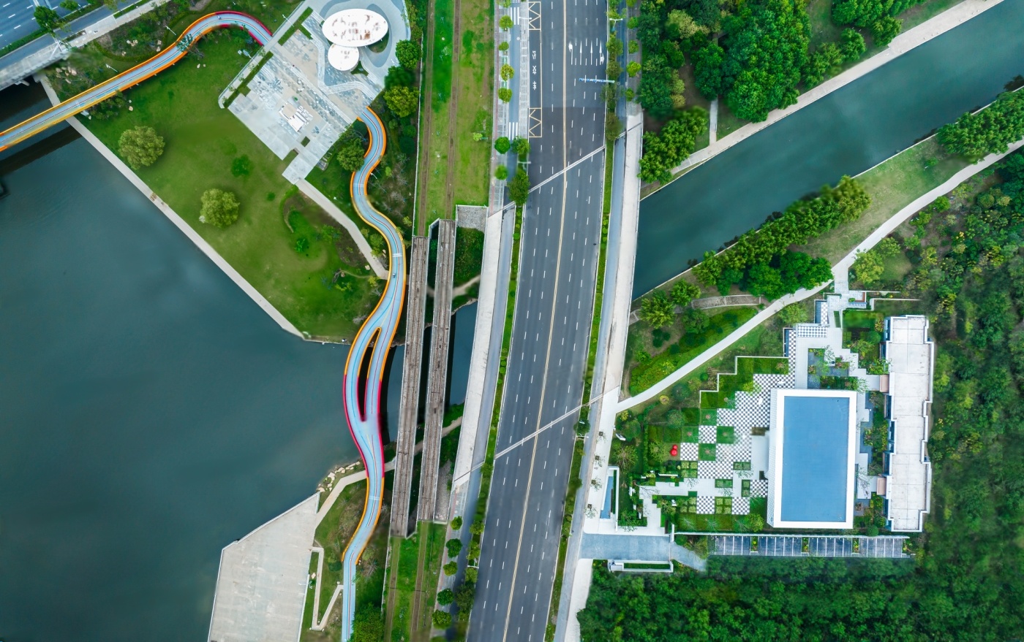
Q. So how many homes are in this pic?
two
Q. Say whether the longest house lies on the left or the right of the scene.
right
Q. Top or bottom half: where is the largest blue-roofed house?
bottom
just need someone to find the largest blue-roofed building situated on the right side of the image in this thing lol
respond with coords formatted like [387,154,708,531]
[766,387,856,529]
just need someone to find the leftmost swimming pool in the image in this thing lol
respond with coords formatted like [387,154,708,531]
[600,475,614,520]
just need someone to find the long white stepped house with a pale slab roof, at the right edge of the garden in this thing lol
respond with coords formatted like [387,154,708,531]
[878,315,933,532]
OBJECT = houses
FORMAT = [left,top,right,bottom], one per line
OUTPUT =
[878,315,933,532]
[766,387,856,529]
